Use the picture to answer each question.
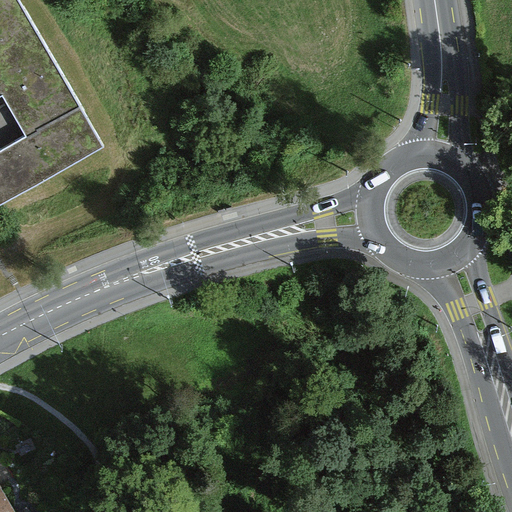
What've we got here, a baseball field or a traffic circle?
traffic circle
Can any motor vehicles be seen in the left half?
No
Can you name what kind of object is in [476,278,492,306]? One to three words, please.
car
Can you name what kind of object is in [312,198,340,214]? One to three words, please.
car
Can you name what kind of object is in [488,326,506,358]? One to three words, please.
vehicle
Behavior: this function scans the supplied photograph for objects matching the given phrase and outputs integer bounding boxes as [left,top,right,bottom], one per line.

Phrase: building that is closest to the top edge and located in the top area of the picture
[0,0,103,206]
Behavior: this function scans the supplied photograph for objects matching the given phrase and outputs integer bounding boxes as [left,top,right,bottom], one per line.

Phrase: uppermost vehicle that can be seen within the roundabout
[364,171,392,192]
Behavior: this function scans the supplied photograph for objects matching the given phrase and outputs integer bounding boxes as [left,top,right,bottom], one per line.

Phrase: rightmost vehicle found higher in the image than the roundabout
[413,111,428,133]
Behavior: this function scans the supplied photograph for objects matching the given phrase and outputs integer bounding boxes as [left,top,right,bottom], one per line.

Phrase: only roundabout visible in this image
[356,139,491,280]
